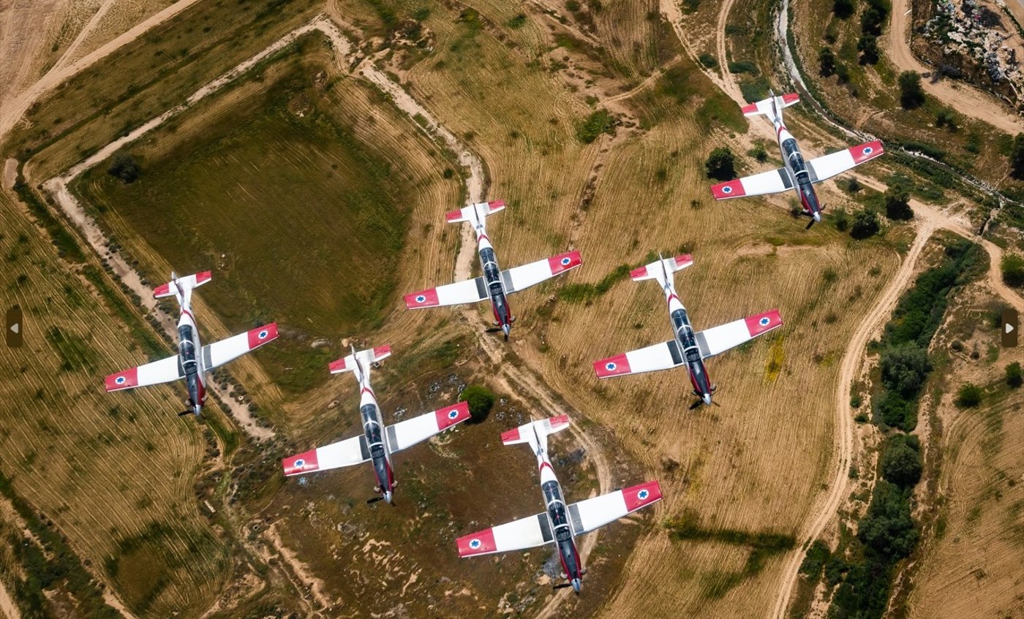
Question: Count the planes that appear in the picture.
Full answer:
Altogether the scene contains 6 planes.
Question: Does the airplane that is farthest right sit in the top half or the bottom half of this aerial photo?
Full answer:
The airplane that is farthest right is in the top half of the image.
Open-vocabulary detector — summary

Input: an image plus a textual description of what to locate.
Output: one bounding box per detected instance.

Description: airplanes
[284,345,471,511]
[594,254,783,412]
[406,198,582,345]
[106,271,279,423]
[711,91,885,232]
[458,415,663,600]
